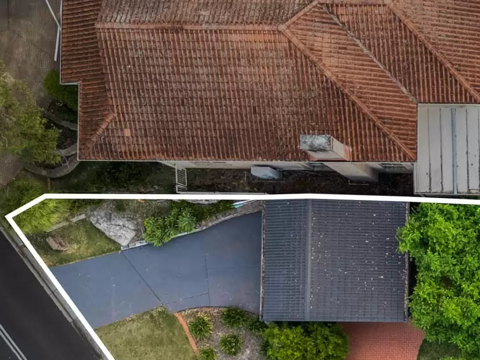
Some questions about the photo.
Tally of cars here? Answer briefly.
zero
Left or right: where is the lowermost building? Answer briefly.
right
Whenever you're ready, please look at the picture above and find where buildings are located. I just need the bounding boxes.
[60,0,480,189]
[258,196,411,322]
